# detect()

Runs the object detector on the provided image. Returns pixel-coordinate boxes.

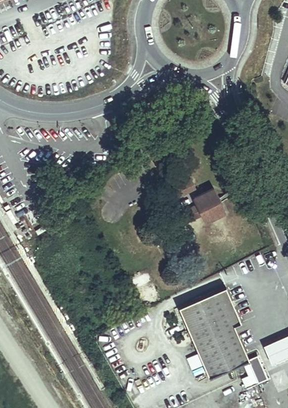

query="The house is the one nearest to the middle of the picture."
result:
[182,184,228,224]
